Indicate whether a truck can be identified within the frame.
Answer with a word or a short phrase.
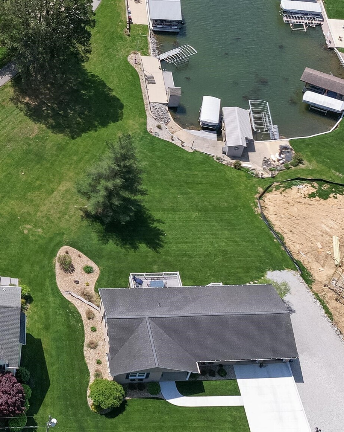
No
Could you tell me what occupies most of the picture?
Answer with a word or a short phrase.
grass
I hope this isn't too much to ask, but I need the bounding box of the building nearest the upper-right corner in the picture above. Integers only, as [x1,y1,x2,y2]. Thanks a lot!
[297,68,344,102]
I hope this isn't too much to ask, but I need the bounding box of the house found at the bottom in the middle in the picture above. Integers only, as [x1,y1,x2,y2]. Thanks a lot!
[97,284,298,388]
